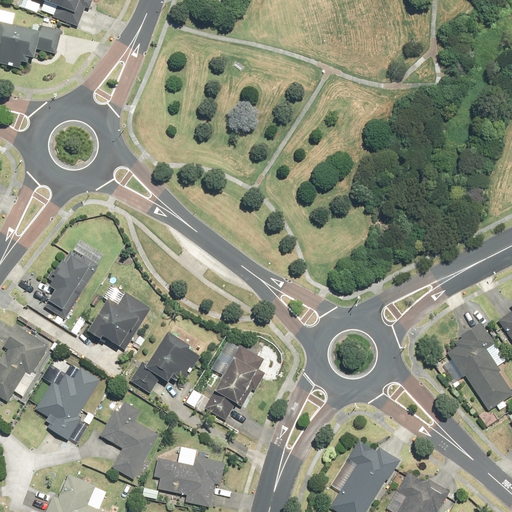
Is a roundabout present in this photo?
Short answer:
Yes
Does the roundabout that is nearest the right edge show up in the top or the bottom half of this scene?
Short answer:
bottom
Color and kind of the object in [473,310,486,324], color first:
white vehicle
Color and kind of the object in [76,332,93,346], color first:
white vehicle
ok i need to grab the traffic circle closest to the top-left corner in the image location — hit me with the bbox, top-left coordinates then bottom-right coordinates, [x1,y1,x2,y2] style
[16,84,142,208]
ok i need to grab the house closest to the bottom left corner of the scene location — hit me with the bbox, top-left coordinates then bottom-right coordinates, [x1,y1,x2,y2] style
[49,474,106,512]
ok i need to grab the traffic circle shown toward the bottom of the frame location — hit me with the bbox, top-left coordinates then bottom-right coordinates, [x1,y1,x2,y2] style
[296,294,411,410]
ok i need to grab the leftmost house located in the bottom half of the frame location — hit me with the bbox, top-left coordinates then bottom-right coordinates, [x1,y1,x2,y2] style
[0,326,48,400]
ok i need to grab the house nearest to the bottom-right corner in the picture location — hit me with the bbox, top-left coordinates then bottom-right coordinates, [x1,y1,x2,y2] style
[387,474,450,512]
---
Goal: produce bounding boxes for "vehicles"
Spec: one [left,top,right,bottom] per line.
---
[464,310,475,326]
[32,500,48,510]
[176,378,185,392]
[473,310,486,324]
[76,332,93,346]
[35,492,50,502]
[230,410,246,422]
[37,282,52,293]
[18,280,33,292]
[120,484,131,500]
[214,488,232,497]
[165,384,178,398]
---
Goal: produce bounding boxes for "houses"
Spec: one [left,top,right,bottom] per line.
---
[49,474,106,512]
[25,0,90,28]
[42,240,102,320]
[0,326,48,400]
[88,286,150,352]
[331,440,401,512]
[387,474,450,512]
[444,322,512,411]
[205,342,264,422]
[101,400,158,480]
[125,332,200,396]
[0,10,62,69]
[35,365,100,443]
[150,446,226,512]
